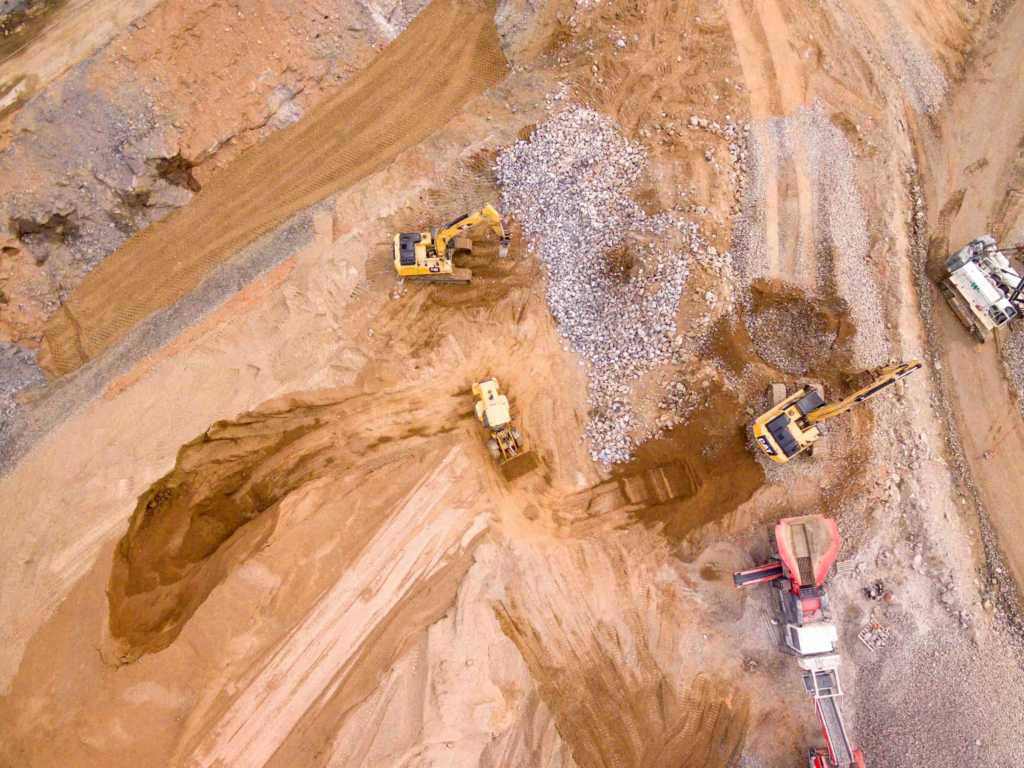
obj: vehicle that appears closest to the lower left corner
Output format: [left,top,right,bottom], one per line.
[472,378,538,483]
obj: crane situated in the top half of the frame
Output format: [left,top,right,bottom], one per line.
[933,235,1024,344]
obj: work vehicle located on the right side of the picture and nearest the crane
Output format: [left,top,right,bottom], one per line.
[749,358,922,464]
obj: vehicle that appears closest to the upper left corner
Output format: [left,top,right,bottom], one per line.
[393,198,513,283]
